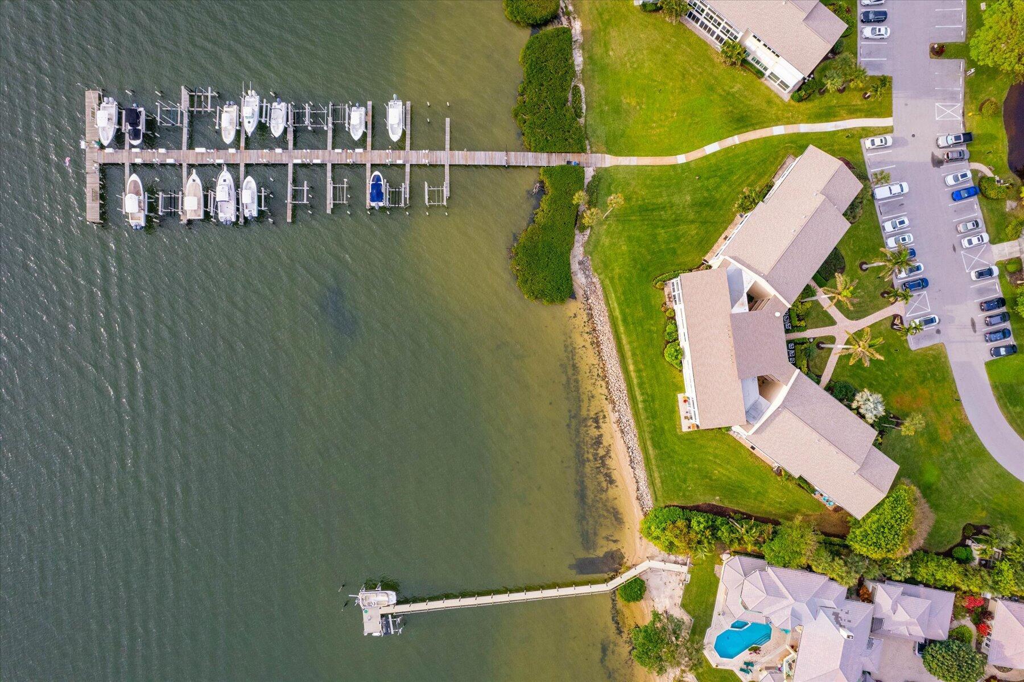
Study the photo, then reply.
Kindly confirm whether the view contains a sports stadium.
No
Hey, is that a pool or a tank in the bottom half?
pool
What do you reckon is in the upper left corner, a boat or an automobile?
boat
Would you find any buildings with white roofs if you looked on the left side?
No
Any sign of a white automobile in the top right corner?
Yes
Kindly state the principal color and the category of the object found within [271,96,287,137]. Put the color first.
white boat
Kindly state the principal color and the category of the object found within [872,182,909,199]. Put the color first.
white vehicle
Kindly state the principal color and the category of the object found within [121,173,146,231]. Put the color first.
white boat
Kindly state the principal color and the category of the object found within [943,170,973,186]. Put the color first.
white car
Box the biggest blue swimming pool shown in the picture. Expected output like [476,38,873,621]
[712,621,774,661]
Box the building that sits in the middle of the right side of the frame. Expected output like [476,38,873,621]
[670,145,899,520]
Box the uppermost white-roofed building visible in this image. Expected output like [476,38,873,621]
[676,0,847,103]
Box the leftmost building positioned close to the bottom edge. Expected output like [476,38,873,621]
[720,555,883,682]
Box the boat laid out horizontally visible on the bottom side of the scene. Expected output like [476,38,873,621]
[353,592,397,606]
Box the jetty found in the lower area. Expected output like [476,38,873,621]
[363,558,688,634]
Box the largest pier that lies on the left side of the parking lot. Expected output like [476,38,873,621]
[85,86,608,224]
